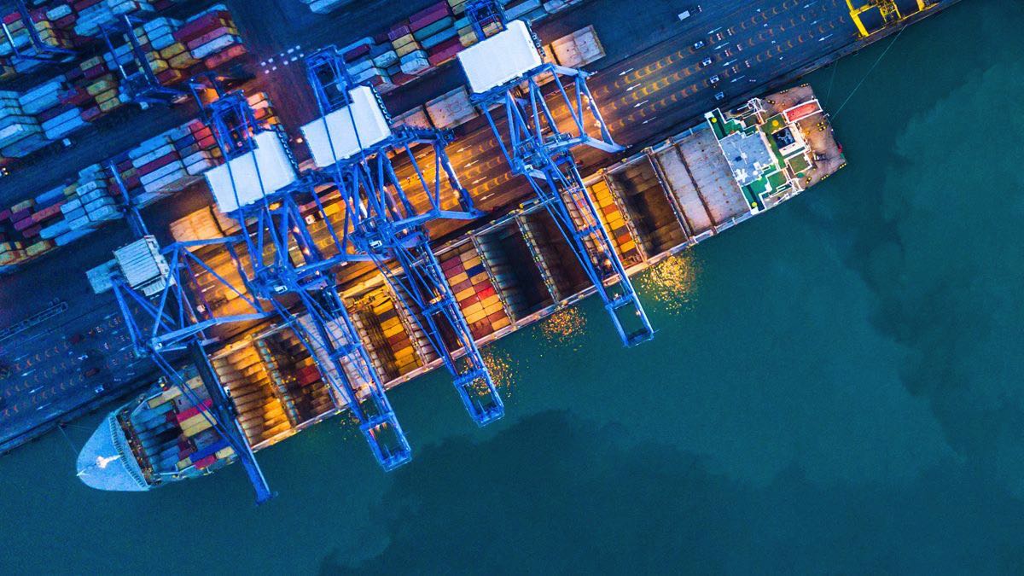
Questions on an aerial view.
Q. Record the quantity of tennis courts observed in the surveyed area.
0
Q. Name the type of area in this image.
port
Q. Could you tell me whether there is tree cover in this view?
No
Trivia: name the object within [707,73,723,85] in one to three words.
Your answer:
vehicle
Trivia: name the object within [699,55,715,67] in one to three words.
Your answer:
vehicle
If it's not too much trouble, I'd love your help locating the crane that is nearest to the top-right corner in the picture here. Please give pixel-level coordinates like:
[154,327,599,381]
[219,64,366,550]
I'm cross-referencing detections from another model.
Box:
[845,0,940,42]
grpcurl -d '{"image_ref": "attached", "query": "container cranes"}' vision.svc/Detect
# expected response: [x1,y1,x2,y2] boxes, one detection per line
[456,0,655,348]
[86,170,290,509]
[194,80,253,164]
[206,92,420,470]
[101,14,195,110]
[845,0,940,42]
[299,49,511,426]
